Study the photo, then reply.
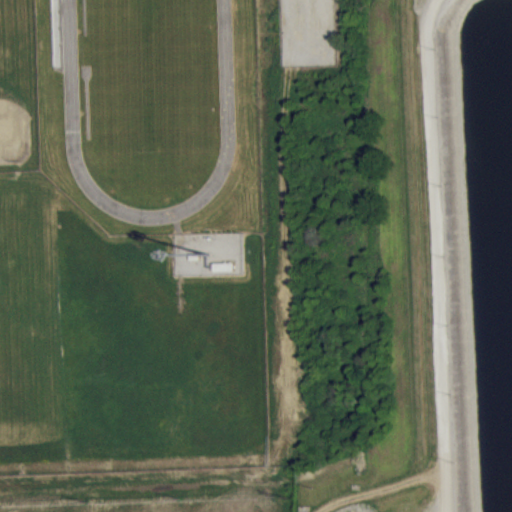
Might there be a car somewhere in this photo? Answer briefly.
No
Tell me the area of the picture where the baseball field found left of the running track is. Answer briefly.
top left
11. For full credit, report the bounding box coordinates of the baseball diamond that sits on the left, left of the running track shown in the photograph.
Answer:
[0,100,30,165]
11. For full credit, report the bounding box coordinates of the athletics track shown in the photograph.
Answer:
[61,0,236,225]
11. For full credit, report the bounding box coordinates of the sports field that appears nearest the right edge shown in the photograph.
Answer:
[76,0,220,209]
